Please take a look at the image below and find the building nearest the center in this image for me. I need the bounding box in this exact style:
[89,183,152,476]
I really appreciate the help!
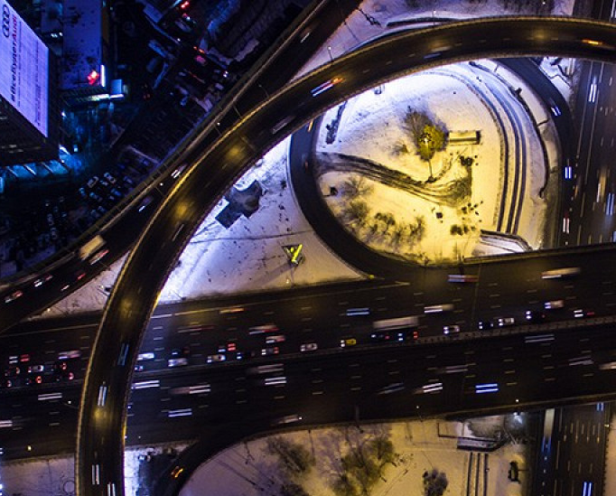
[212,174,267,227]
